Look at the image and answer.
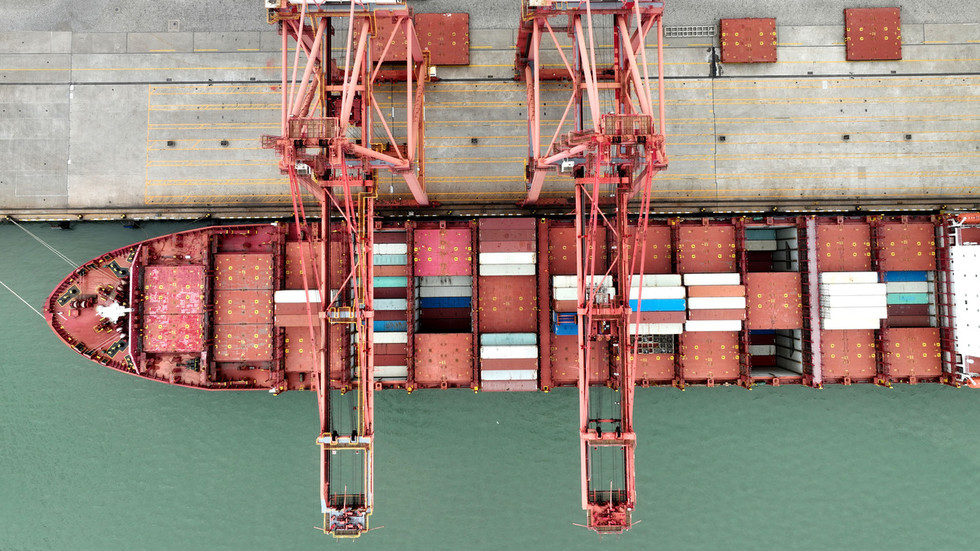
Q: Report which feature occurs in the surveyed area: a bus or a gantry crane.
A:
gantry crane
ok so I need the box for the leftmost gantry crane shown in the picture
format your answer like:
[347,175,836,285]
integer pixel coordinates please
[259,0,449,542]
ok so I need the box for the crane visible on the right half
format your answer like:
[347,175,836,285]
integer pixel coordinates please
[505,0,674,540]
